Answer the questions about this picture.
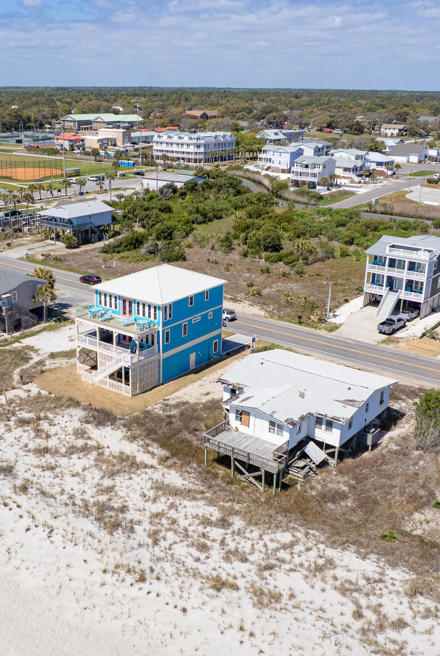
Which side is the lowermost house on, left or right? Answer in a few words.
right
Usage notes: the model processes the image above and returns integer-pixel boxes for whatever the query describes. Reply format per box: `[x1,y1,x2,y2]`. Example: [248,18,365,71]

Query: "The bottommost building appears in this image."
[203,353,394,494]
